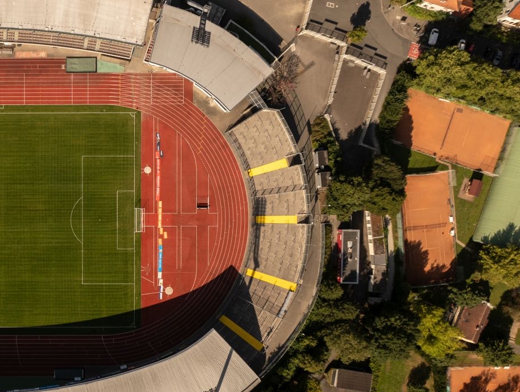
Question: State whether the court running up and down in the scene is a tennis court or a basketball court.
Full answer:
The court running up and down appears to be a tennis court.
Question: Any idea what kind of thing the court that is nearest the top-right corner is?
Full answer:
Looking closely, the court that is nearest the top-right corner is a tennis court.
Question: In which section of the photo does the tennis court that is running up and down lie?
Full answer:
The tennis court that is running up and down is located in the right region of the scene.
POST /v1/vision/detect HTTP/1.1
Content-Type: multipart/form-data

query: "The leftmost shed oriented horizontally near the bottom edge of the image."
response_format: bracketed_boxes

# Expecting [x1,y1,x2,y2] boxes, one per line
[328,366,372,392]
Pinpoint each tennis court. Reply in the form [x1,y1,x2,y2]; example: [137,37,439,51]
[398,89,510,169]
[448,366,520,392]
[403,171,456,286]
